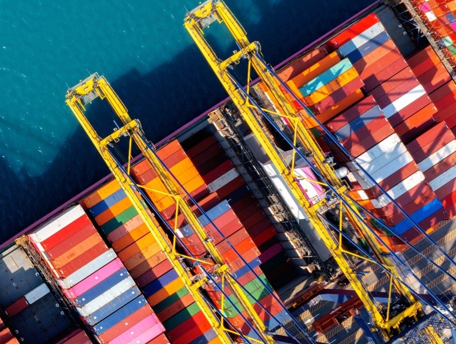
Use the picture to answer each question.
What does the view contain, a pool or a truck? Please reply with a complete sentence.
Of the two, only a truck appears.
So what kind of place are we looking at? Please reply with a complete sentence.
This image shows a port.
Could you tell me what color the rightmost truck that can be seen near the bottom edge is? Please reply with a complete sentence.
The rightmost truck that can be seen near the bottom edge is red.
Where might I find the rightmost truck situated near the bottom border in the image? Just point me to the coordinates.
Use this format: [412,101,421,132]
[313,300,360,337]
